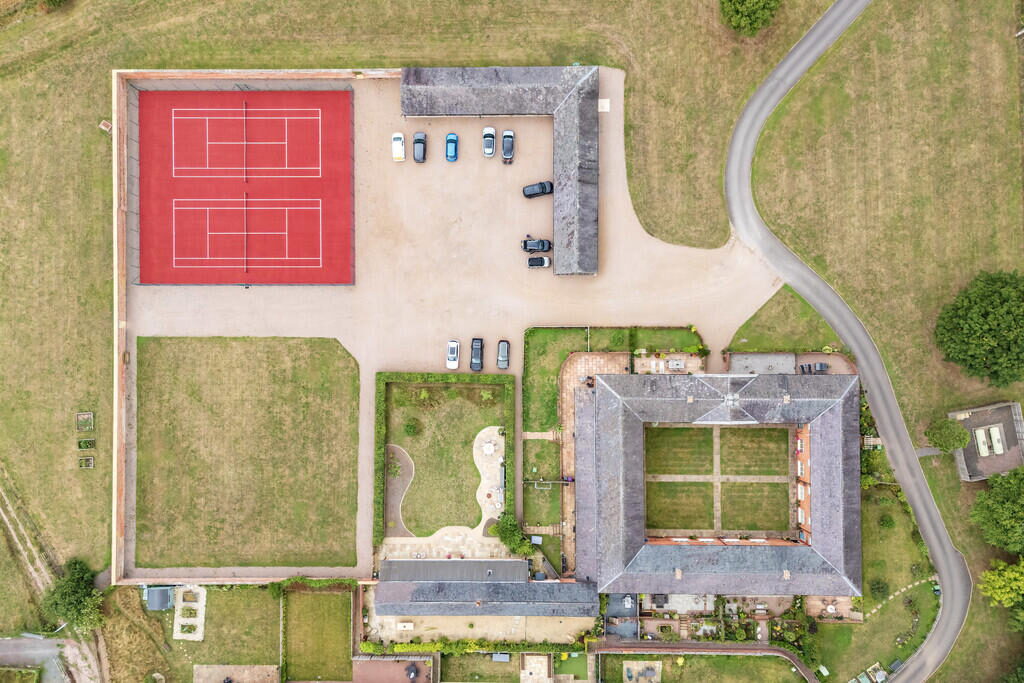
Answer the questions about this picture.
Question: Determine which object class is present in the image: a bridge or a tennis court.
tennis court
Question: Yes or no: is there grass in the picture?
Yes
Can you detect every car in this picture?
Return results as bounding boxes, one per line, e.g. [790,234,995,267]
[391,133,405,163]
[527,256,552,268]
[522,181,552,198]
[445,134,459,162]
[482,127,496,158]
[447,340,459,369]
[469,338,483,371]
[413,132,426,164]
[521,235,552,254]
[502,131,515,160]
[497,340,509,369]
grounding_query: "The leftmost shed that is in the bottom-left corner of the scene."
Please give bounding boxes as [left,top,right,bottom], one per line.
[147,585,175,609]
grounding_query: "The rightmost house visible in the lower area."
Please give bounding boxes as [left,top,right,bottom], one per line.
[573,373,861,597]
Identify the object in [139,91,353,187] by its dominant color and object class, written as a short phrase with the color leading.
red tennis court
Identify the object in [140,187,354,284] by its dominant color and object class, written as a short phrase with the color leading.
red tennis court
